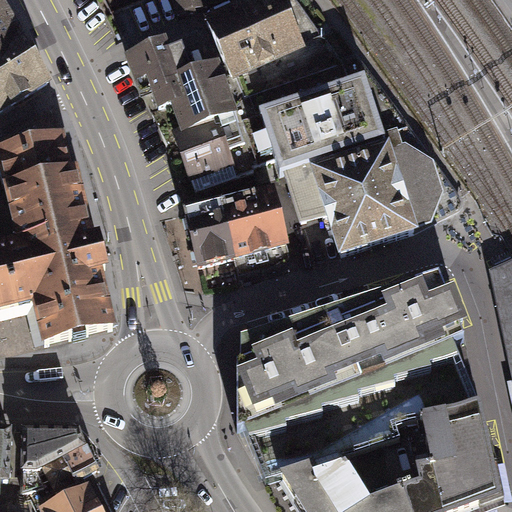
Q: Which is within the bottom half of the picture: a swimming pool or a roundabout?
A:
roundabout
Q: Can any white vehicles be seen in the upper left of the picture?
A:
Yes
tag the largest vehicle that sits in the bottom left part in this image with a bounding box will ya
[24,366,66,384]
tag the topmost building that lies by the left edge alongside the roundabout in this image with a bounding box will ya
[0,151,114,350]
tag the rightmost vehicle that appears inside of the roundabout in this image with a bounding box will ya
[180,344,193,365]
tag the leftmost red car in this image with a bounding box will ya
[112,77,134,92]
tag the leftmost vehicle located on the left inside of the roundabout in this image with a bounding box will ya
[104,415,126,429]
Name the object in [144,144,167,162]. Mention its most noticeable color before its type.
black car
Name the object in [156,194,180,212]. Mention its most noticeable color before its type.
white car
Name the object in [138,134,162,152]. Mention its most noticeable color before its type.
black car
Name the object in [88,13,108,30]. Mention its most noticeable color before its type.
white car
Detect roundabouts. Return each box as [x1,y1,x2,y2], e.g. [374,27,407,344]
[94,330,221,456]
